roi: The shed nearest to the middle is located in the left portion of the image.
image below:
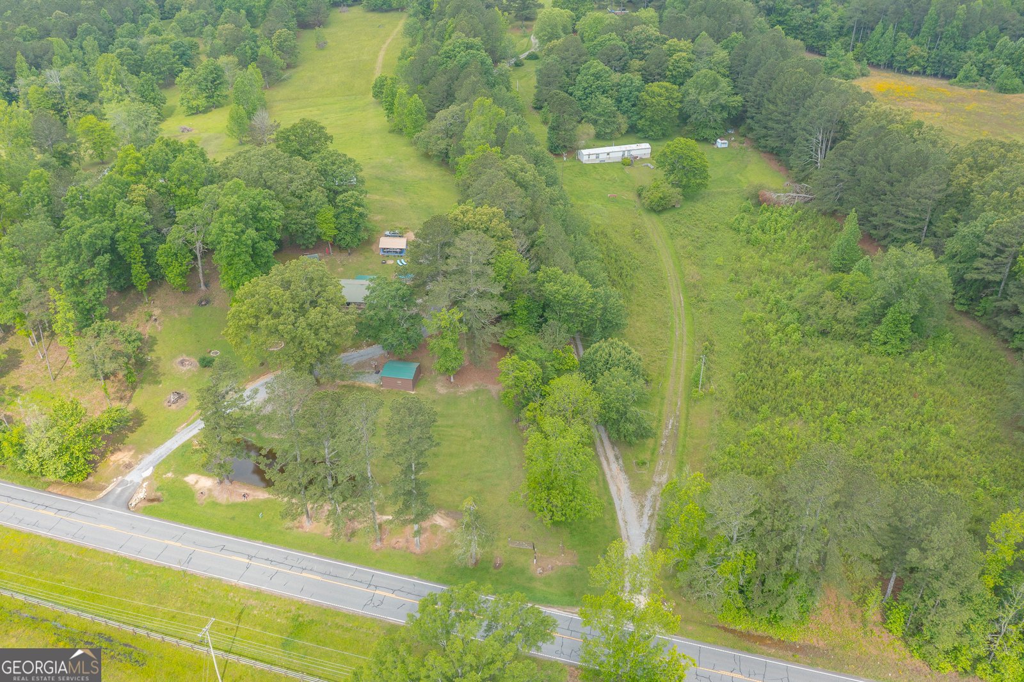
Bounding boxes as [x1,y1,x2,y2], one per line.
[379,357,424,392]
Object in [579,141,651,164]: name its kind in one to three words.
house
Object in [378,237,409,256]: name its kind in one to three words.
building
